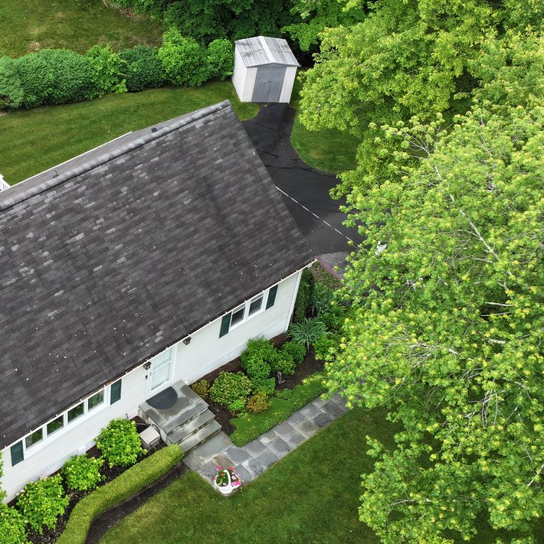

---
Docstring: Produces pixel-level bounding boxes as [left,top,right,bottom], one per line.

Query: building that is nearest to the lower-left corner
[0,97,318,503]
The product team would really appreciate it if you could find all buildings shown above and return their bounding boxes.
[0,97,318,503]
[237,32,300,103]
